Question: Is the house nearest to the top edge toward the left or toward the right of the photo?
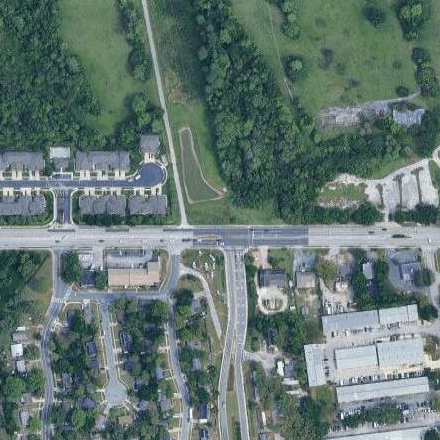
left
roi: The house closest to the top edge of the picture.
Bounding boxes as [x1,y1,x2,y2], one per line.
[140,134,160,155]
